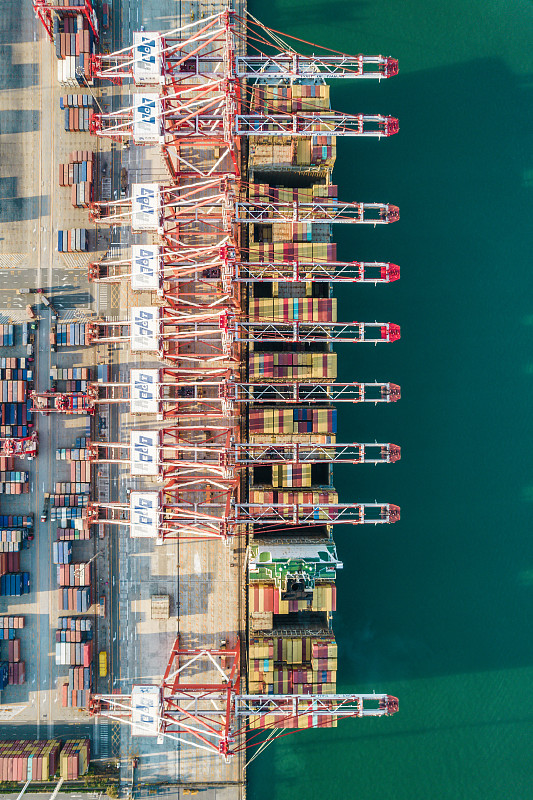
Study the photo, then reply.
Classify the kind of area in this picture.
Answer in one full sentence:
It's a port.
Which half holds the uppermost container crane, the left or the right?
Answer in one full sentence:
The uppermost container crane is on the left side of the image.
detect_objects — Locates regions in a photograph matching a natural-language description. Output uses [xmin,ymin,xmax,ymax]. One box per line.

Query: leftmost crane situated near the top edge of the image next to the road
[27,0,98,48]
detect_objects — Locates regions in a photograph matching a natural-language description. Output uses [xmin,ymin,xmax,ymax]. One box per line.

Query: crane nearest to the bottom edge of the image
[88,631,399,757]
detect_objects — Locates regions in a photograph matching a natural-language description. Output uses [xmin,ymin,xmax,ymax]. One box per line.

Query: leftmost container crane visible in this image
[0,424,39,459]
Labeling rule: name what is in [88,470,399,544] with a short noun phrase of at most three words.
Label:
container crane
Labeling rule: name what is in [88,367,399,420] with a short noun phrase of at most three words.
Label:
container crane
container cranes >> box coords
[88,631,399,757]
[88,419,399,481]
[88,12,399,144]
[88,243,399,318]
[27,0,98,48]
[88,470,399,544]
[88,77,399,195]
[88,367,399,420]
[28,384,97,420]
[88,308,399,370]
[0,424,39,459]
[88,177,399,263]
